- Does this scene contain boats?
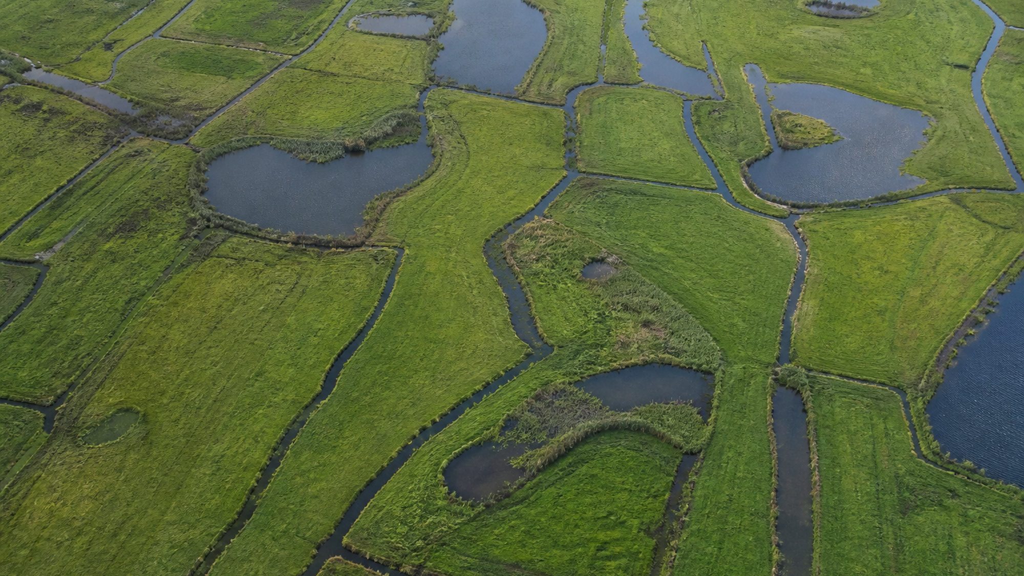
No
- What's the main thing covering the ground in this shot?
grass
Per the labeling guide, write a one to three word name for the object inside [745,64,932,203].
pond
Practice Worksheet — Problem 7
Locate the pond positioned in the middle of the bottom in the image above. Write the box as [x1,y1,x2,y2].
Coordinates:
[444,363,715,501]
